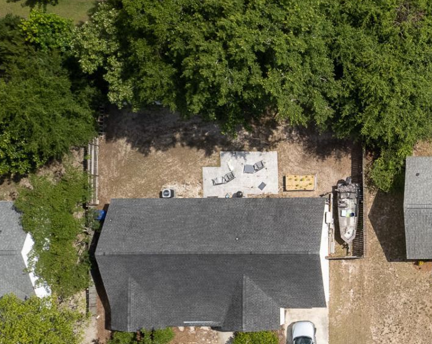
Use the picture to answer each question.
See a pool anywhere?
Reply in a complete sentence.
No, no pool can be seen from above.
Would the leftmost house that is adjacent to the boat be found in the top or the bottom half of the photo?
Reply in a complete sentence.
Seen from above, the leftmost house that is adjacent to the boat lies in the bottom half of the view.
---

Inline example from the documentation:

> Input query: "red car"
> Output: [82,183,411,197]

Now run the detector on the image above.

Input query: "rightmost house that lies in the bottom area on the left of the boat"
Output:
[95,197,329,333]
